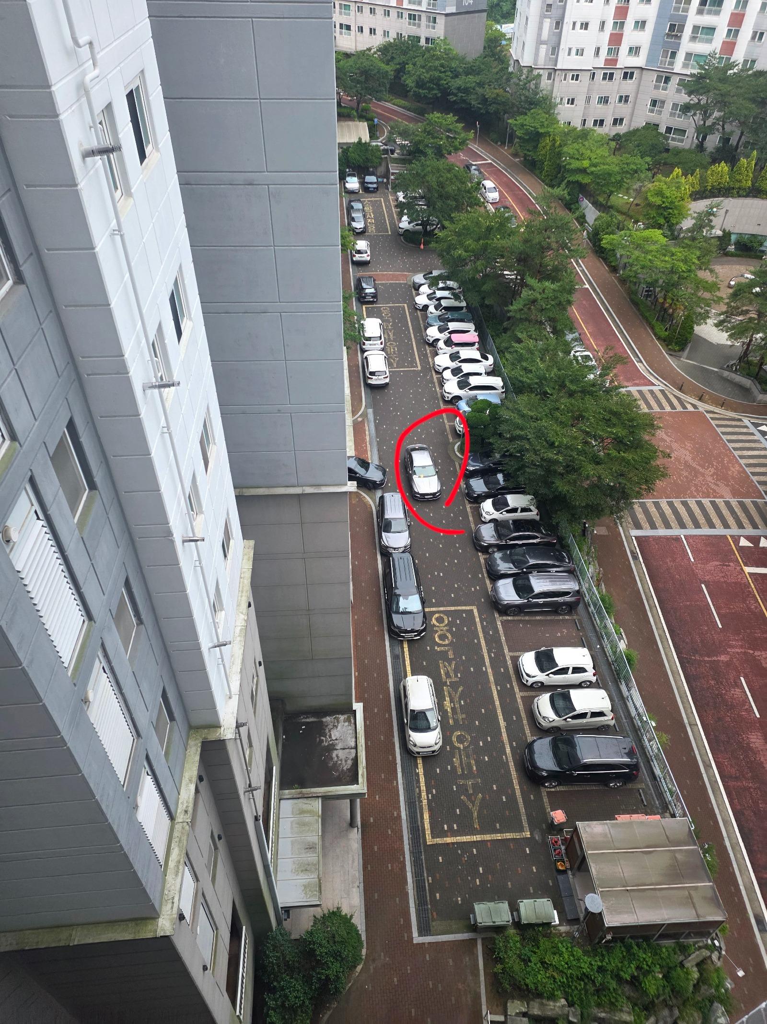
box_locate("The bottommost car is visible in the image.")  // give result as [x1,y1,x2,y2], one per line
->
[526,730,636,787]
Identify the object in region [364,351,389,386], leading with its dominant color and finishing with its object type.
white car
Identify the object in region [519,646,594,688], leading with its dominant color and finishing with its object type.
white car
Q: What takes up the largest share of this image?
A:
buildings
